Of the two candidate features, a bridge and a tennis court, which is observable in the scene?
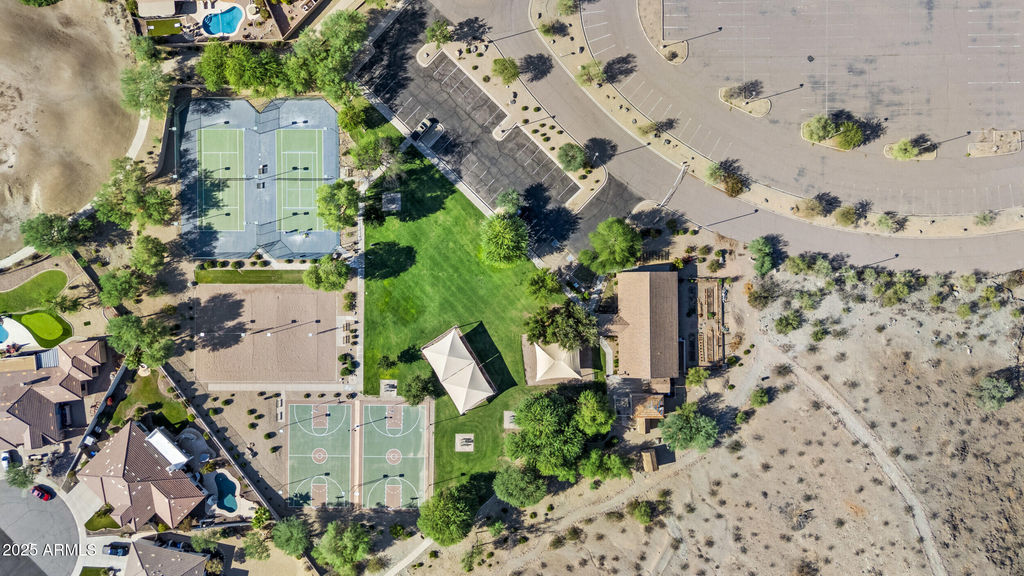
tennis court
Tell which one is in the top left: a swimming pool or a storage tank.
swimming pool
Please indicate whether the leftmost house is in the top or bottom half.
bottom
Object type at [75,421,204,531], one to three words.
house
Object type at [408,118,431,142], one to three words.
truck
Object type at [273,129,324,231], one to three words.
tennis court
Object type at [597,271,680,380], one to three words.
building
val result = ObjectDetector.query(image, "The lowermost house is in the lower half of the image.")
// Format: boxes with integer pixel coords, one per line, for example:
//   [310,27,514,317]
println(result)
[124,538,210,576]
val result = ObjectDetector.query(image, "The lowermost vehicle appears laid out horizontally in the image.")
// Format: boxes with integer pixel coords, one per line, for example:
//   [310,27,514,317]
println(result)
[102,545,129,557]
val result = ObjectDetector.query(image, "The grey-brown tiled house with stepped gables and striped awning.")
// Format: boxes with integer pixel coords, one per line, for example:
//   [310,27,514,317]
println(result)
[0,341,103,449]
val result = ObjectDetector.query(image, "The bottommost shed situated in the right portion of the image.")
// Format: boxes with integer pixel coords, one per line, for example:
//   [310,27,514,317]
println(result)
[641,449,658,475]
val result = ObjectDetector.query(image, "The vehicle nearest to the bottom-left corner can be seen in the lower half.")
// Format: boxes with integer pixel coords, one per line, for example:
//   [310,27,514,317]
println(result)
[29,487,49,502]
